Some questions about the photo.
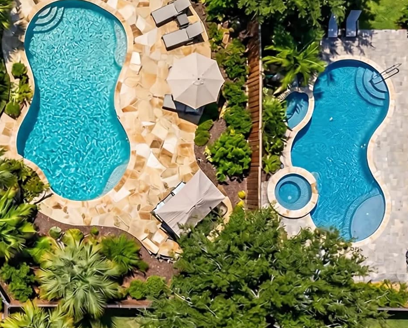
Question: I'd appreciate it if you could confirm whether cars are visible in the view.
No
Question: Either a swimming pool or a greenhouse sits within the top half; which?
swimming pool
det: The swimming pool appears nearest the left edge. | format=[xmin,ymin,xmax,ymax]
[12,0,136,206]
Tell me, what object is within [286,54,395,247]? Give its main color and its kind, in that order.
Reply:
blue swimming pool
